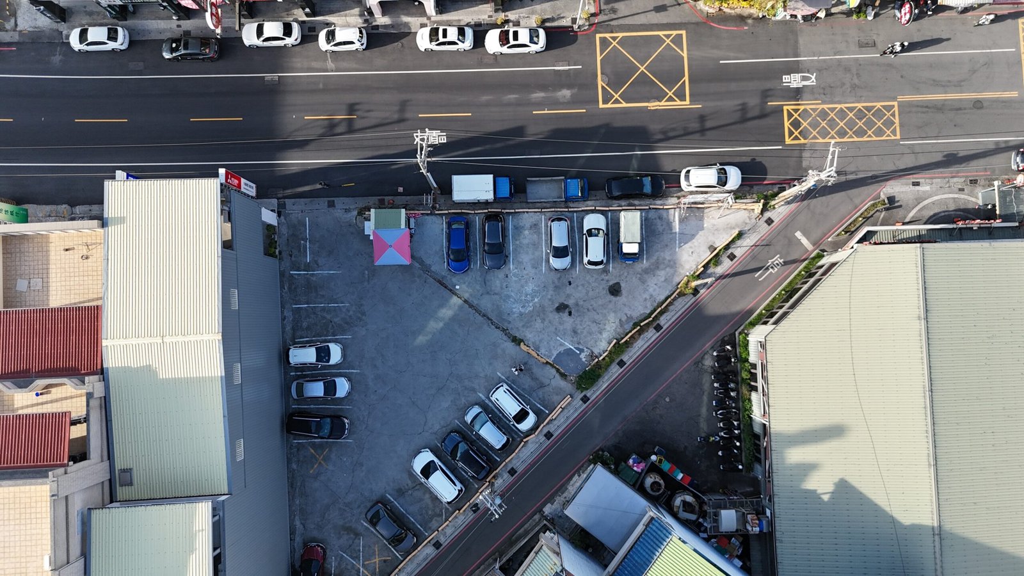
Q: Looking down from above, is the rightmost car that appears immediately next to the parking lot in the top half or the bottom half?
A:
top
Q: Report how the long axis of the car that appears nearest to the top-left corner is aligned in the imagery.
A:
from left to right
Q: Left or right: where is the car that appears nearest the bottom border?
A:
left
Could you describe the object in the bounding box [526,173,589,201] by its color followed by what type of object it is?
blue truck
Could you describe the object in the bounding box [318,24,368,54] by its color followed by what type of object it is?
white car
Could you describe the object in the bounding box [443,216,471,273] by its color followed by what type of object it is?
blue car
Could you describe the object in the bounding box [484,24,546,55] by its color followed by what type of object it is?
white car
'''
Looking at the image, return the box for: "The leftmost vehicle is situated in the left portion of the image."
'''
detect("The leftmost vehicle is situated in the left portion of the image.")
[68,23,130,53]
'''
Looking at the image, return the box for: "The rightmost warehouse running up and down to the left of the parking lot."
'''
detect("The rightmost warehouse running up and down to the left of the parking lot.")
[101,176,284,576]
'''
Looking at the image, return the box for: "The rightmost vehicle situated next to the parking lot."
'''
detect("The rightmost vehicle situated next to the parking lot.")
[680,162,741,192]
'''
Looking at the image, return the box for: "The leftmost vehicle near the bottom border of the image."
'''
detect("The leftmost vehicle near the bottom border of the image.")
[297,542,328,576]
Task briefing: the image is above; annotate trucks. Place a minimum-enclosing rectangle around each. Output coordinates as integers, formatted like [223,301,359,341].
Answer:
[618,209,645,264]
[526,173,589,201]
[450,171,516,201]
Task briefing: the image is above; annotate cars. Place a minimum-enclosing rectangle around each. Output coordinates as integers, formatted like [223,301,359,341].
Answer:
[606,171,665,200]
[443,216,471,273]
[290,373,352,402]
[486,381,538,434]
[318,24,368,54]
[581,213,609,269]
[1010,149,1024,174]
[546,216,574,271]
[479,212,508,270]
[365,499,416,555]
[463,402,512,453]
[285,411,350,442]
[416,22,474,52]
[440,427,493,485]
[161,33,221,63]
[68,23,130,53]
[411,446,466,507]
[297,542,328,576]
[680,162,741,192]
[284,339,344,368]
[484,24,546,55]
[242,18,302,49]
